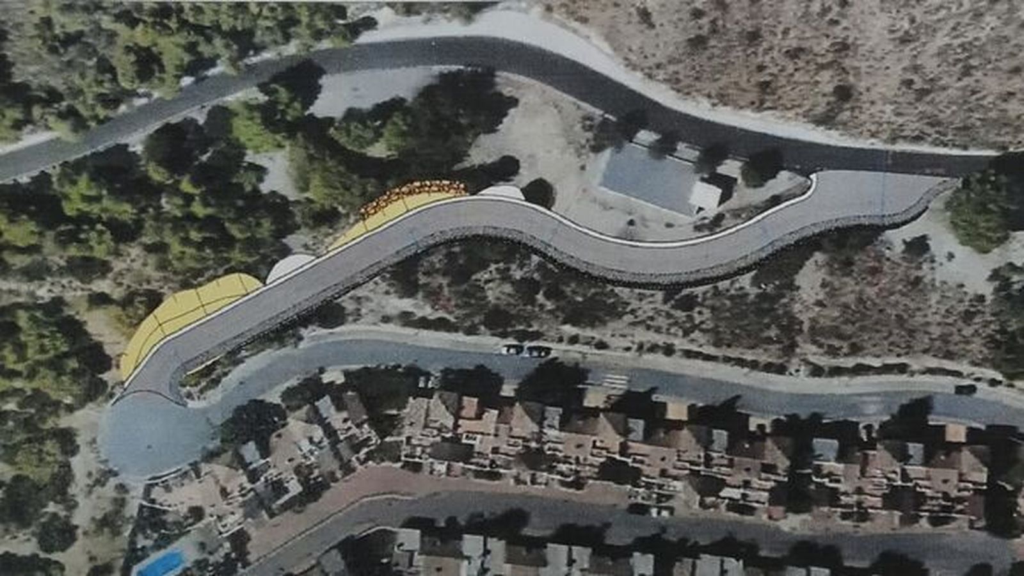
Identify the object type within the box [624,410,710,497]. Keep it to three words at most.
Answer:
house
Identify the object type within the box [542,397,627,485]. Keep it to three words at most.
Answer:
house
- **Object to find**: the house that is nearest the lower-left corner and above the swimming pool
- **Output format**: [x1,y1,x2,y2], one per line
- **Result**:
[153,451,264,530]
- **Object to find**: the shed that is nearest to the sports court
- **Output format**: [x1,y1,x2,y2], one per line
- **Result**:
[688,182,722,213]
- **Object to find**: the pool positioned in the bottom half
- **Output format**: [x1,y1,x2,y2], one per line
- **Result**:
[129,549,193,576]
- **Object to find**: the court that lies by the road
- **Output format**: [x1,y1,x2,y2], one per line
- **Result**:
[594,141,704,217]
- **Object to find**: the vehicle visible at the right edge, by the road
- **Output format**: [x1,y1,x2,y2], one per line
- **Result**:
[954,383,978,395]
